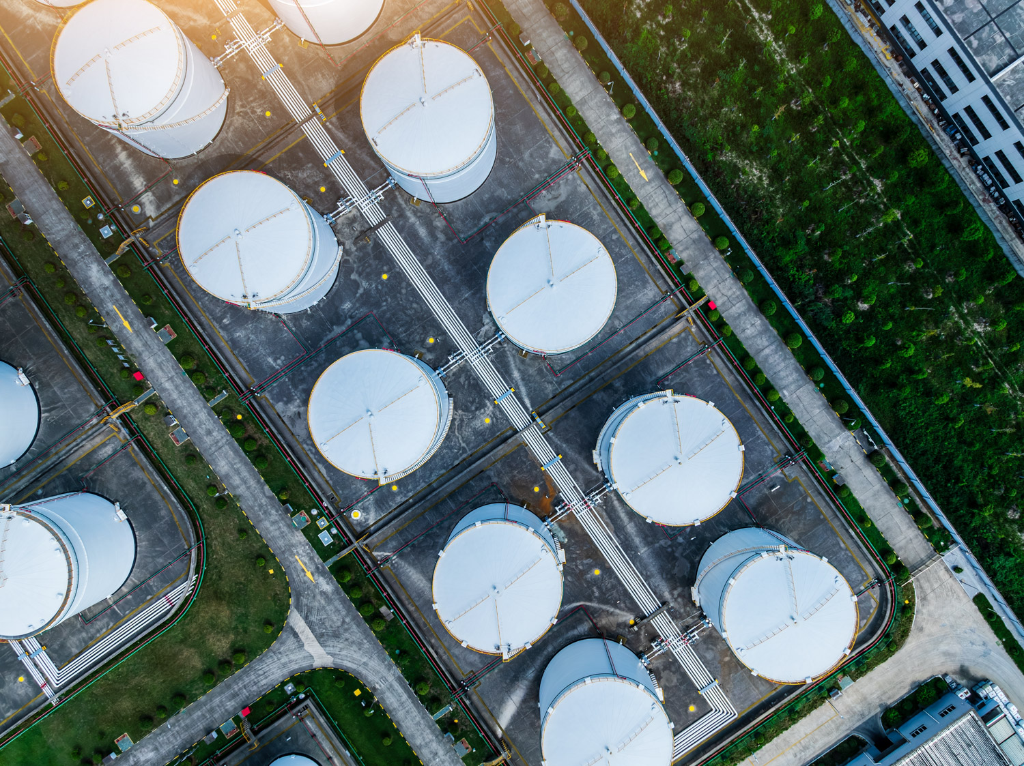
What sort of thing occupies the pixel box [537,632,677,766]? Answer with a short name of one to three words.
storage tank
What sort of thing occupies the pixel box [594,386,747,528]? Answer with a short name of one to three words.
storage tank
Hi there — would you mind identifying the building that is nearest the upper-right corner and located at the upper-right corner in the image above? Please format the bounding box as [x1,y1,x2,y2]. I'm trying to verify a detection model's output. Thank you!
[863,0,1024,225]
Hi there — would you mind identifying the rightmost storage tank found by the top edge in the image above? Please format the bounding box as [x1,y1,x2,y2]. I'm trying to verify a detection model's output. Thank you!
[360,30,499,208]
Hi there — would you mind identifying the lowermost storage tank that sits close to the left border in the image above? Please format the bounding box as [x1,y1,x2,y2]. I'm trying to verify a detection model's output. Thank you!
[0,491,135,650]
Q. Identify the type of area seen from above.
industrial area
